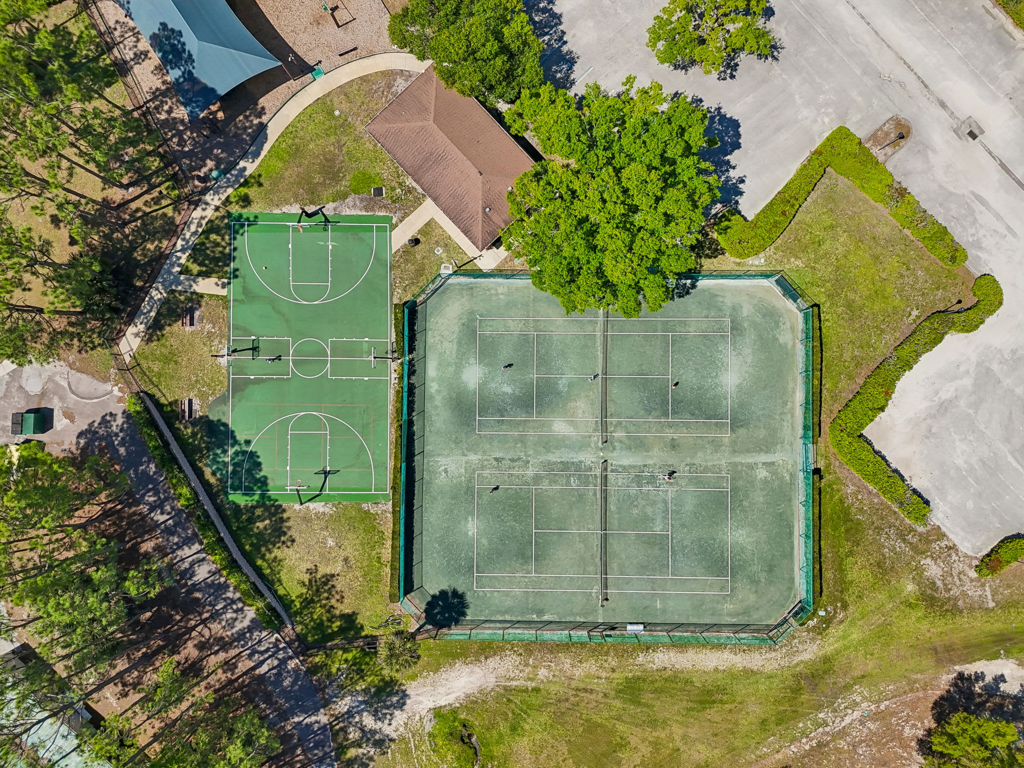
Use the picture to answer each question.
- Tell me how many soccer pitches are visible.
0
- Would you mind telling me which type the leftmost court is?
basketball court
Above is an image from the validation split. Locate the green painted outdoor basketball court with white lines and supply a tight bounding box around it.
[208,212,392,502]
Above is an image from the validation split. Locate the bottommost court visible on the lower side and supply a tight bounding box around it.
[404,454,801,634]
